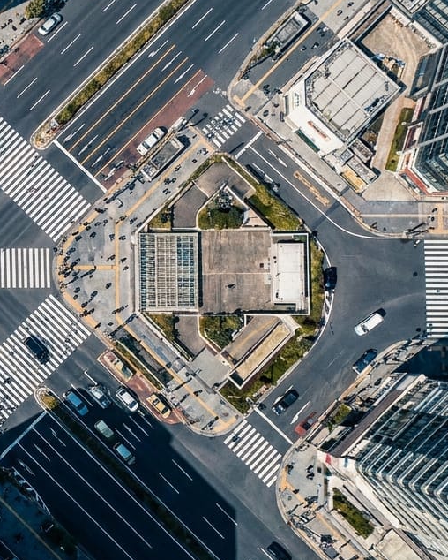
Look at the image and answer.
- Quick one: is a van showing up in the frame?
Yes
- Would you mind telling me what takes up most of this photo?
paved ground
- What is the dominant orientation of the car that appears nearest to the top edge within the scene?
at an angle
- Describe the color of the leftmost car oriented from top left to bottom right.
black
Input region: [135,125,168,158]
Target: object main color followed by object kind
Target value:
white van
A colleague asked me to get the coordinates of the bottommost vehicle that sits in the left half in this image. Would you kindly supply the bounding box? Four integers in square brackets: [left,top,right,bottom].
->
[111,440,136,466]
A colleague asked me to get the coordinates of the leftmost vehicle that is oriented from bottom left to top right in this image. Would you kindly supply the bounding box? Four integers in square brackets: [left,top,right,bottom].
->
[36,11,64,40]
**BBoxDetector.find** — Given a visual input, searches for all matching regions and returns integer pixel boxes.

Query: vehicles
[91,418,115,443]
[270,387,299,414]
[21,333,52,365]
[293,411,318,437]
[143,392,171,420]
[352,307,388,337]
[135,125,168,158]
[36,11,64,40]
[263,537,294,560]
[324,266,337,291]
[114,383,140,413]
[102,349,133,381]
[111,440,136,466]
[85,380,113,409]
[350,348,378,375]
[60,388,90,419]
[416,240,424,248]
